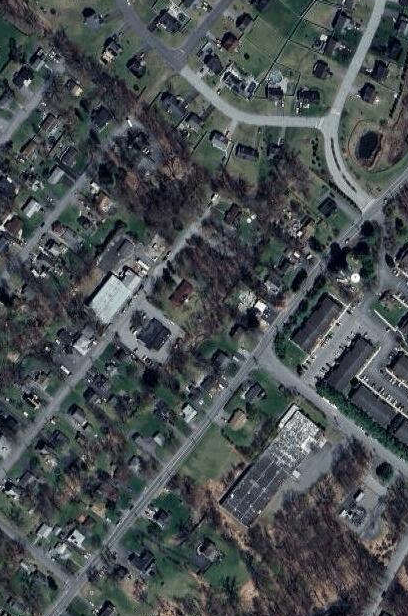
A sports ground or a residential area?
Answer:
residential area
